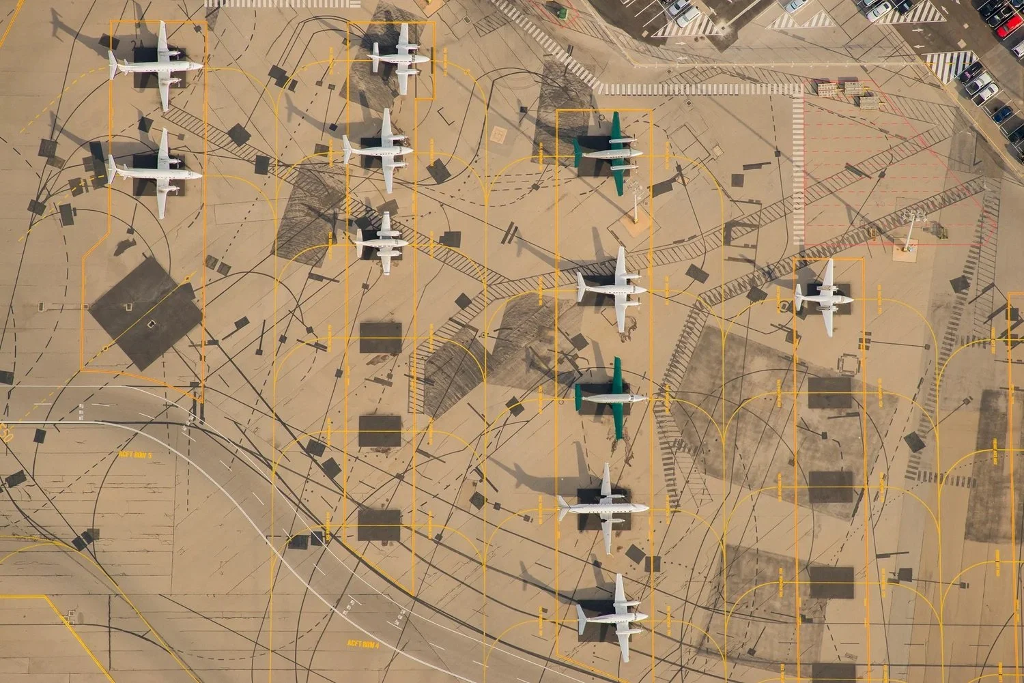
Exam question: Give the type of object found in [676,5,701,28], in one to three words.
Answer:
vehicle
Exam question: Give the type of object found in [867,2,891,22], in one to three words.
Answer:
car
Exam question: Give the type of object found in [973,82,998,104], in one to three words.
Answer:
vehicle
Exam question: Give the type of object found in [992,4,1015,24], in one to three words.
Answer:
car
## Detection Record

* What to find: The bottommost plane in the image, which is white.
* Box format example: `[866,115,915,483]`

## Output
[576,575,647,660]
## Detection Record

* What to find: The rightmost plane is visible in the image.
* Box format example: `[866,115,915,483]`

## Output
[794,260,853,336]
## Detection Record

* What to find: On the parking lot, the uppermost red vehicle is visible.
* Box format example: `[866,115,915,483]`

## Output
[1000,15,1023,35]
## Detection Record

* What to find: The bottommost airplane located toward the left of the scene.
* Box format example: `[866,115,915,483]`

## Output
[351,212,408,273]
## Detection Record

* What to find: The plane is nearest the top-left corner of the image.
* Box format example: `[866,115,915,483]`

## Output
[106,22,203,110]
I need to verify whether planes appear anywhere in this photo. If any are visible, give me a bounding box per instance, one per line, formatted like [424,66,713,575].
[366,25,430,92]
[104,128,202,217]
[794,260,853,336]
[576,249,646,331]
[573,114,643,194]
[558,464,650,553]
[351,212,408,273]
[573,356,647,440]
[106,22,203,110]
[342,110,414,191]
[576,575,647,660]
